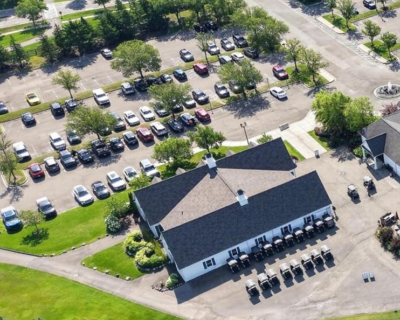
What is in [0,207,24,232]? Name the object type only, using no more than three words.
truck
